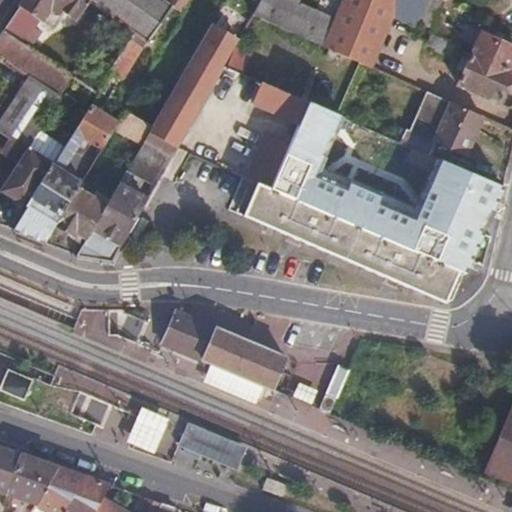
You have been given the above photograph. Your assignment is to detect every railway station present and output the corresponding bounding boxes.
[202,326,287,391]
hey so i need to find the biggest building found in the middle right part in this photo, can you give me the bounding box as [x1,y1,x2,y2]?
[248,102,505,303]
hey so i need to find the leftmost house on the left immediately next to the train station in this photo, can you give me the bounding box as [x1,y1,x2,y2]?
[160,308,200,362]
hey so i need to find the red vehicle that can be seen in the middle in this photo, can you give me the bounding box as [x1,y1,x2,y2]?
[286,256,298,278]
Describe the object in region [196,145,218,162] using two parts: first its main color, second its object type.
white car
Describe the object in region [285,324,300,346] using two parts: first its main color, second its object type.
white car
